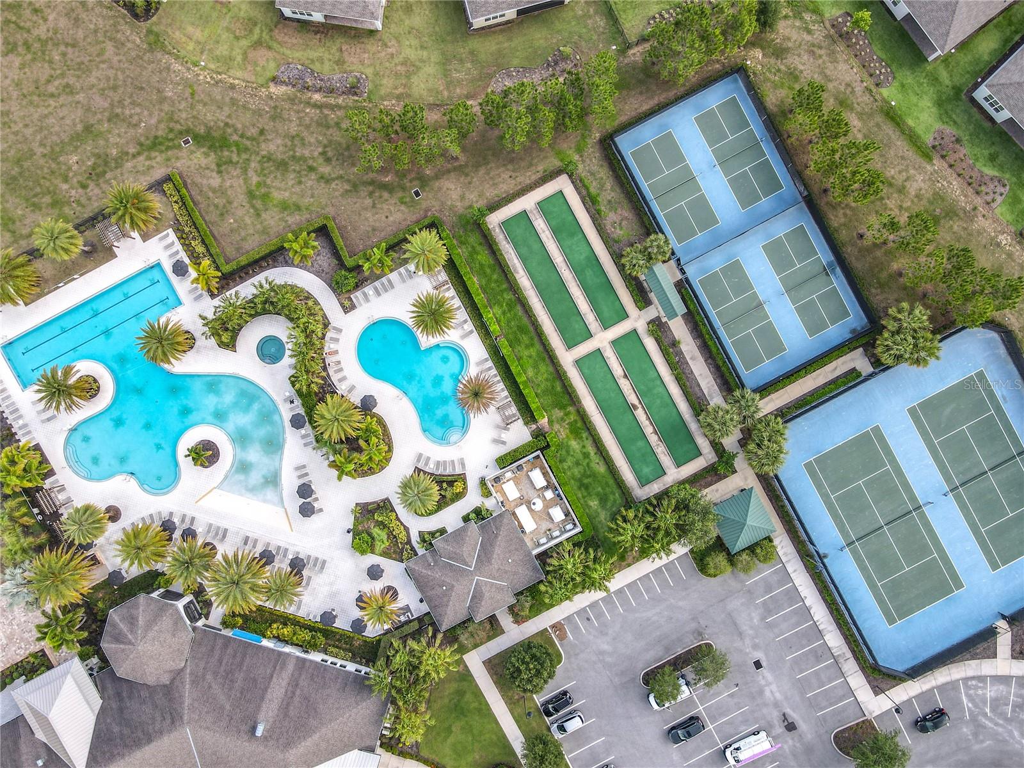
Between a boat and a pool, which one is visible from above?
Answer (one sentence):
This aerial view contains a pool.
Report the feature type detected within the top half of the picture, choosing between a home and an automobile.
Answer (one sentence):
Looking within the top half of the picture, you will find a home.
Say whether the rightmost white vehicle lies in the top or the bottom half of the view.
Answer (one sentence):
It is in the bottom half that the rightmost white vehicle appears.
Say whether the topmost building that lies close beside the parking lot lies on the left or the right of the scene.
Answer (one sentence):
The topmost building that lies close beside the parking lot is on the right side of the image.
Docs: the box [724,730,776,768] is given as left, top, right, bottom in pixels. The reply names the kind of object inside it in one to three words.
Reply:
vehicle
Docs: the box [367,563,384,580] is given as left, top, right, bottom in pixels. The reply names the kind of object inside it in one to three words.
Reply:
umbrella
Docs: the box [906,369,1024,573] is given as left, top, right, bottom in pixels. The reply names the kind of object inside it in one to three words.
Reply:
tennis court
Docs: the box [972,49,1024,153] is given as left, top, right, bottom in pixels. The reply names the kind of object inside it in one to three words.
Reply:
house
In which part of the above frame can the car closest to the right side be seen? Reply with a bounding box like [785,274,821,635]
[913,708,950,731]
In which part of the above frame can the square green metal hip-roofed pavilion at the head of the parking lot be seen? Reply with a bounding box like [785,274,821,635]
[711,486,776,555]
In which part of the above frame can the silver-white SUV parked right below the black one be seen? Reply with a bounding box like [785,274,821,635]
[548,709,585,736]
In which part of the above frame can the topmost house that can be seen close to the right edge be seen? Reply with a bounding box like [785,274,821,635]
[887,0,1013,62]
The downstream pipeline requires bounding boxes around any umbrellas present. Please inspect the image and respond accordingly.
[290,555,306,571]
[360,394,376,411]
[298,501,316,518]
[297,482,314,499]
[173,260,191,277]
[161,518,180,535]
[182,526,200,542]
[260,549,276,565]
[320,609,336,626]
[367,563,384,580]
[351,617,367,633]
[290,412,306,428]
[353,593,369,610]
